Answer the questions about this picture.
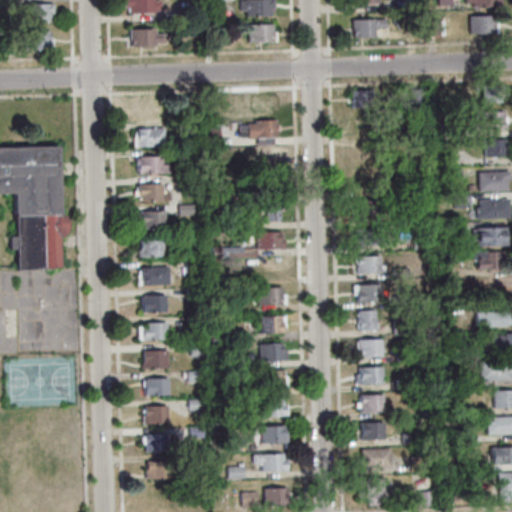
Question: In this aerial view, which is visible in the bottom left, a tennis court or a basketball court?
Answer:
basketball court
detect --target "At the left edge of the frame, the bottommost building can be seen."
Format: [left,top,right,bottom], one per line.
[0,146,72,268]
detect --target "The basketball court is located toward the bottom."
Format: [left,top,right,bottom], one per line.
[4,357,74,405]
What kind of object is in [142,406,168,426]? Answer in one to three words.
house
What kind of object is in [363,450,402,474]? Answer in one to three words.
house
